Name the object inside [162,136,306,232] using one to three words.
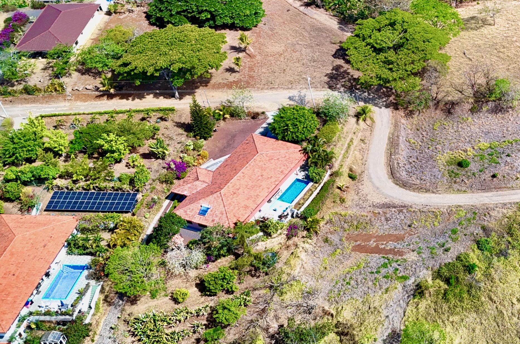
house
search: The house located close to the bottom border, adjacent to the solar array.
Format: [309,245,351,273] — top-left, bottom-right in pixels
[0,220,77,342]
